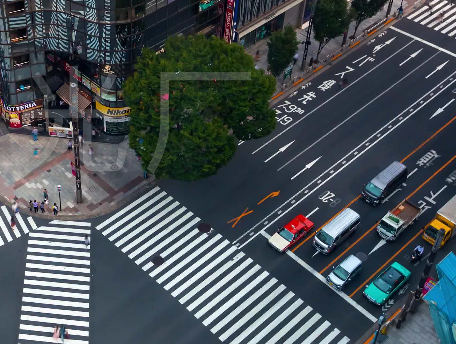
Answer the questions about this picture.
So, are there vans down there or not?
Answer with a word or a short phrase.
Yes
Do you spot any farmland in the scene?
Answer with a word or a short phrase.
No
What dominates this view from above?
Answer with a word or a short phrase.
paved ground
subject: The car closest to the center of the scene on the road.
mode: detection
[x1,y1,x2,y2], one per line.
[267,215,315,254]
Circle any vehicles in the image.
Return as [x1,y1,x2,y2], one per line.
[410,248,424,266]
[359,157,410,204]
[311,206,362,254]
[372,198,427,244]
[361,262,413,308]
[320,251,369,295]
[267,215,315,254]
[419,191,456,249]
